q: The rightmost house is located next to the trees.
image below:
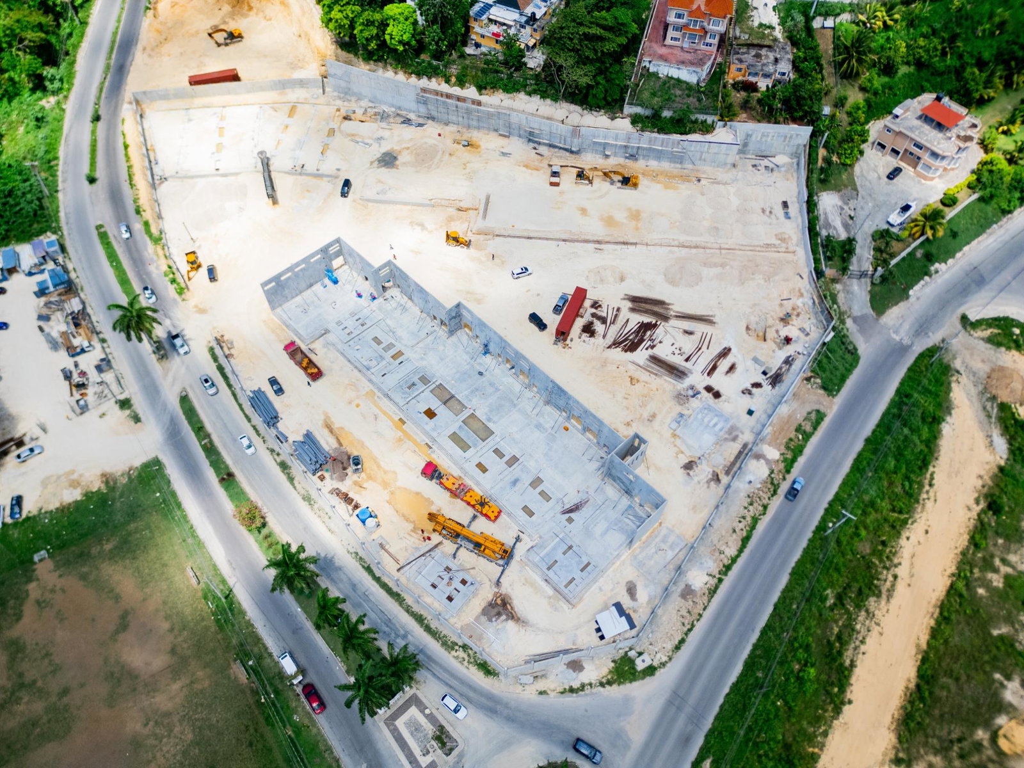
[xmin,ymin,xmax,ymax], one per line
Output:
[874,92,984,178]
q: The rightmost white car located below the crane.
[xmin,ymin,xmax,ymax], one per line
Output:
[440,691,468,720]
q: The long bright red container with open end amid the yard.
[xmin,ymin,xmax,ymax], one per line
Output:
[556,285,588,342]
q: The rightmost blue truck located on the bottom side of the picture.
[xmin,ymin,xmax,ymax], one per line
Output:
[786,474,807,501]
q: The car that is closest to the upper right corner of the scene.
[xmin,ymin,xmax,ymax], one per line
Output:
[887,164,904,178]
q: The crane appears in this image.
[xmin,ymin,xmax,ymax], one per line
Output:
[422,518,523,588]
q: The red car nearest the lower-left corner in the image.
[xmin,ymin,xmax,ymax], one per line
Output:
[299,680,326,716]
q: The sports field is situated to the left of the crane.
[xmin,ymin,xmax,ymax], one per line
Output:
[0,459,327,768]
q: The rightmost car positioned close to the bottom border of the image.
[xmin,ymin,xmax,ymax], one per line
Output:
[572,734,604,765]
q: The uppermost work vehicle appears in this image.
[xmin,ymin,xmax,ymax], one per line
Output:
[211,25,245,43]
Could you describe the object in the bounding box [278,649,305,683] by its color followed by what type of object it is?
white vehicle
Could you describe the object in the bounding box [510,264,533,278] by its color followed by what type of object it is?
white car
